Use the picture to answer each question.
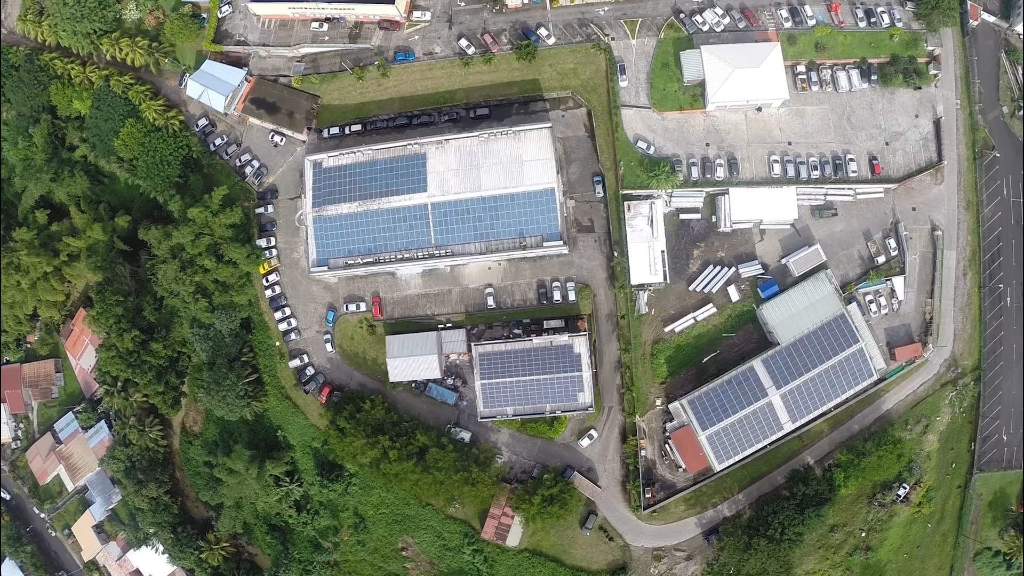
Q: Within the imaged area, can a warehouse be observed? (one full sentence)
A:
Yes, I can see a warehouse in this picture.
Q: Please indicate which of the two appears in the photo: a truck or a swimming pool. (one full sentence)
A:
This aerial view contains a truck.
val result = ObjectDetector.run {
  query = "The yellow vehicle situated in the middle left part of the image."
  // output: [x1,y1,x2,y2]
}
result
[261,259,282,271]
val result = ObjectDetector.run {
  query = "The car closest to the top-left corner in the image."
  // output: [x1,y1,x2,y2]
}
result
[178,71,192,91]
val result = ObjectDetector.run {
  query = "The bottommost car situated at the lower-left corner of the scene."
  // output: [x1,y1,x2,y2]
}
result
[43,519,60,538]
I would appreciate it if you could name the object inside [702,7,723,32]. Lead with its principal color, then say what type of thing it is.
white vehicle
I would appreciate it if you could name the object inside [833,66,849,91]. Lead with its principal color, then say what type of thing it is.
white vehicle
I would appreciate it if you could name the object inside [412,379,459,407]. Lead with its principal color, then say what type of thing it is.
blue truck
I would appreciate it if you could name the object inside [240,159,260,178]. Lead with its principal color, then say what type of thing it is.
white car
